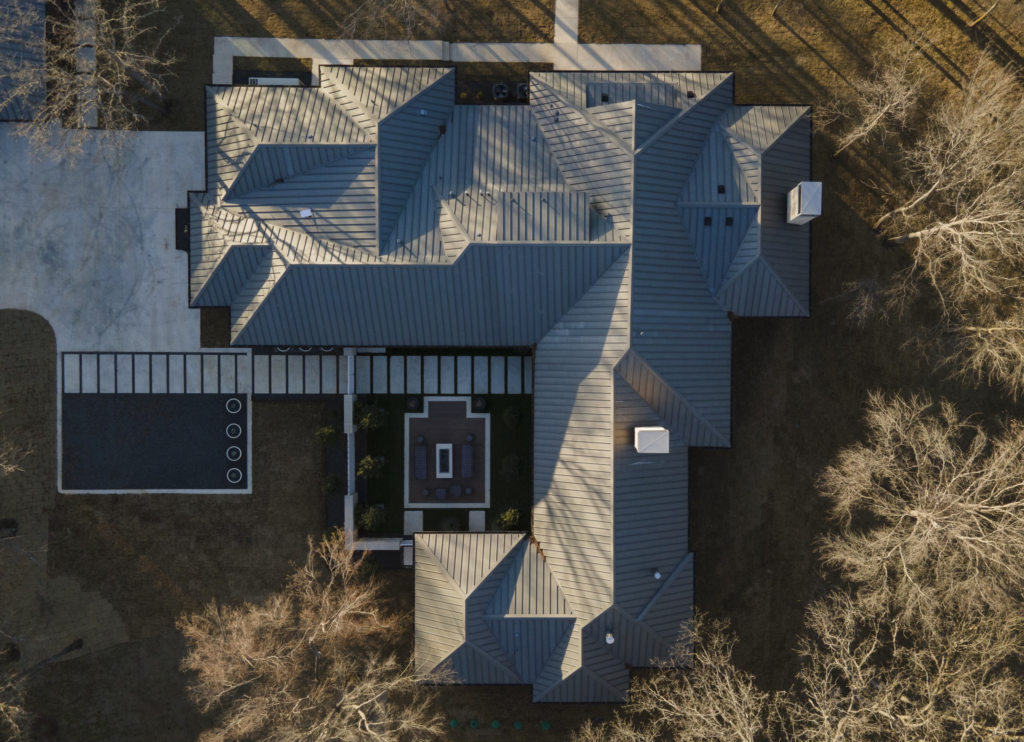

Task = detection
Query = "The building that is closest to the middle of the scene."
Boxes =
[186,63,822,705]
